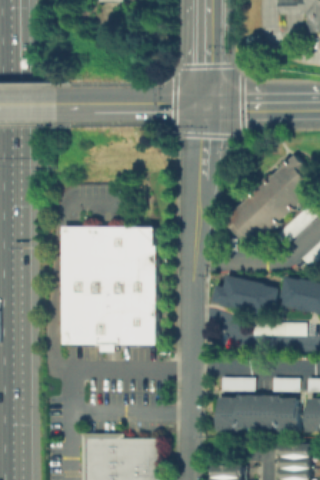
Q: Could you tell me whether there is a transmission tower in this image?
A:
No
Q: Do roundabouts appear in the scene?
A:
No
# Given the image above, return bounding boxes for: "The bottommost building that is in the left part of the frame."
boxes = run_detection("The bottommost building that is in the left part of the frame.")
[84,434,157,480]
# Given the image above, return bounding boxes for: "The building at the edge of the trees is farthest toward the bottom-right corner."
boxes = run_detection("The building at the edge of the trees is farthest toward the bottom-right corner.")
[278,444,309,480]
